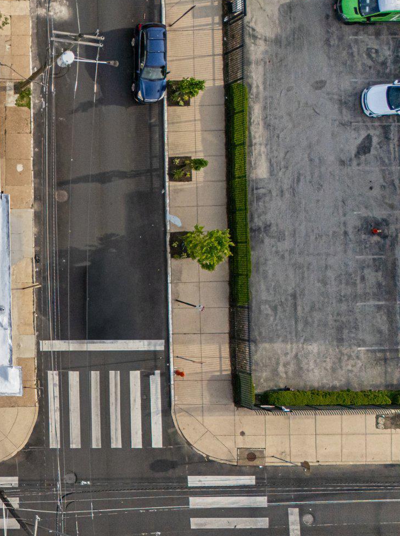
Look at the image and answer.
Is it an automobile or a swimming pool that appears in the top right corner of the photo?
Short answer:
automobile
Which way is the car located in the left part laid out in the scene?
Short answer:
up and down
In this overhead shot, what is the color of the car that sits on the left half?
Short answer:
blue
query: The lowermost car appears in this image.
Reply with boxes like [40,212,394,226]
[359,79,400,116]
